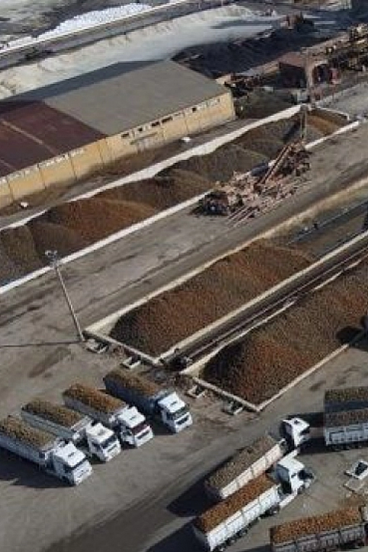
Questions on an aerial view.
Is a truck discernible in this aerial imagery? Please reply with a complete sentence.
Yes, the photo shows a truck.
